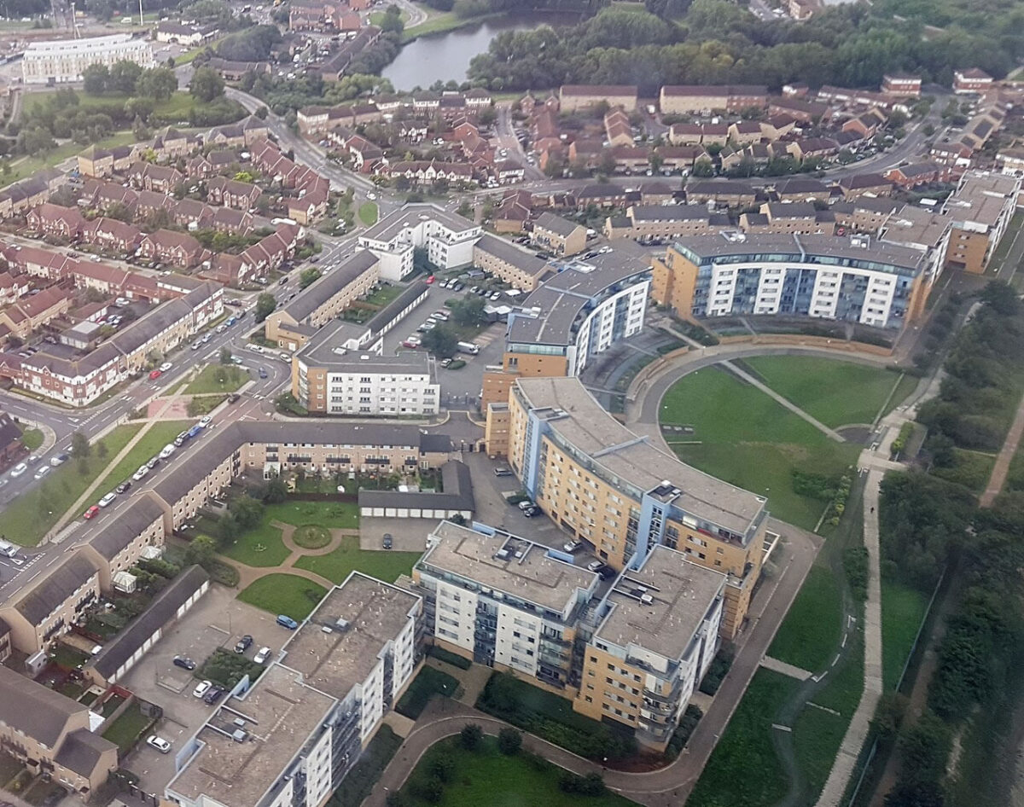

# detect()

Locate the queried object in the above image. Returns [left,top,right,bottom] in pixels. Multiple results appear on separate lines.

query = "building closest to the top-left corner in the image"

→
[20,29,154,88]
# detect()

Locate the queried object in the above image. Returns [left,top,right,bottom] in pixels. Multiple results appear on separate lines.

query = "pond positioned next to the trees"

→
[381,10,597,95]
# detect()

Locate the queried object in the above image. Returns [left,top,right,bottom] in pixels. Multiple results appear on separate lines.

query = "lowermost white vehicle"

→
[143,734,175,755]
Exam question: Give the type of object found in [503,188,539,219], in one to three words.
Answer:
house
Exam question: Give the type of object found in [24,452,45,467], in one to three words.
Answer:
car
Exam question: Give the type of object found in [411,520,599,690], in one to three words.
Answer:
building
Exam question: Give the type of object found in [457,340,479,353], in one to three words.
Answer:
vehicle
